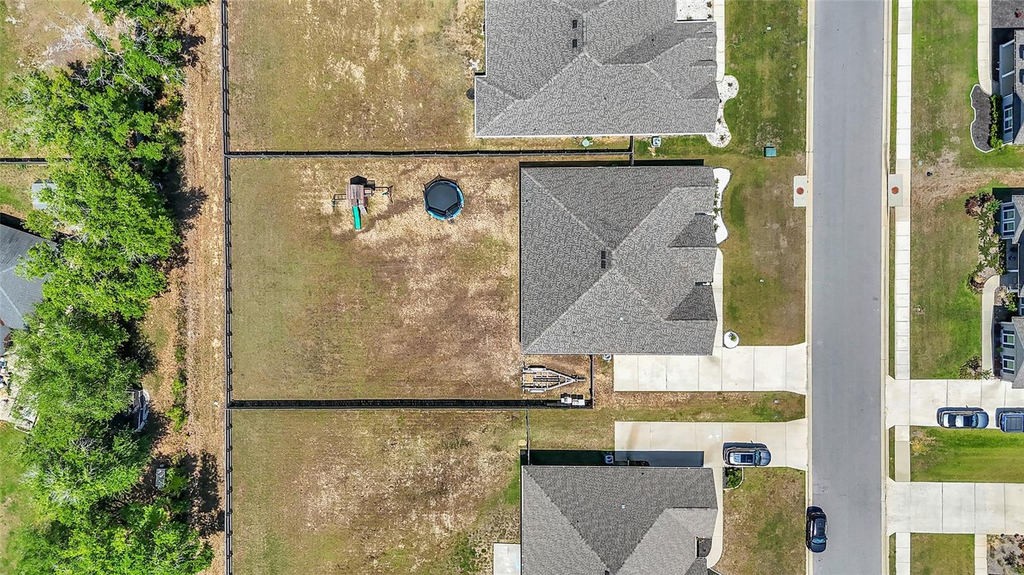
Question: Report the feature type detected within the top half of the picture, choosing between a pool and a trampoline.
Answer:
trampoline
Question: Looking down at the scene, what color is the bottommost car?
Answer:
black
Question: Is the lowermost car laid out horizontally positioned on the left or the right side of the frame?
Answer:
right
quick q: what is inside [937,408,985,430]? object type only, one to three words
car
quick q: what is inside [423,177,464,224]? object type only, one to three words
trampoline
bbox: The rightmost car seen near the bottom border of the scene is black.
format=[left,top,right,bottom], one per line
[806,507,830,552]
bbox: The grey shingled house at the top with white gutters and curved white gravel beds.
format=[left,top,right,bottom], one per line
[474,0,719,137]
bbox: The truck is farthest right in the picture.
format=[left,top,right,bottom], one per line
[995,410,1024,431]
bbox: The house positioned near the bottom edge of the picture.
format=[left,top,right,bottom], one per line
[521,463,717,575]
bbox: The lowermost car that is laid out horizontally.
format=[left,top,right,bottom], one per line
[723,445,770,468]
